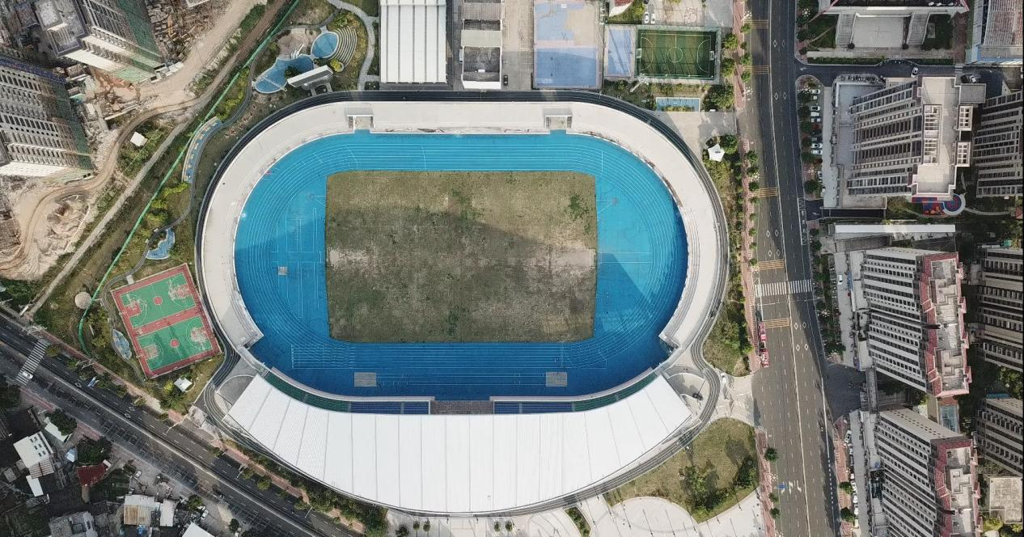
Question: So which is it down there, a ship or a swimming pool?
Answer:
swimming pool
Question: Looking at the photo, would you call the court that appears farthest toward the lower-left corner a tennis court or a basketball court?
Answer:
basketball court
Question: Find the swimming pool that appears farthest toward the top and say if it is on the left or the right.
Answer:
left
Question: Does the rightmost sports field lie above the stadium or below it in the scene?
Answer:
above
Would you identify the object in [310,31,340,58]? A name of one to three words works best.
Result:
swimming pool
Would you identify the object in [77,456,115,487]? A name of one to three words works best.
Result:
house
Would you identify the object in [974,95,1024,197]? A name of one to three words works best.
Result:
building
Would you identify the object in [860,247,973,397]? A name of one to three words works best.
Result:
building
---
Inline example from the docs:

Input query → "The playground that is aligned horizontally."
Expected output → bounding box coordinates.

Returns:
[912,193,967,216]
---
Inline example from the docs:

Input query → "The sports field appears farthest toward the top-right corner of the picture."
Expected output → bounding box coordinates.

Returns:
[633,25,720,84]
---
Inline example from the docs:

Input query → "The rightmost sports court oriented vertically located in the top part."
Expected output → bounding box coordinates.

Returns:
[604,23,633,89]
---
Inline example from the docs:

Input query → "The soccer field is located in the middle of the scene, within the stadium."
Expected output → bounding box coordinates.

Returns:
[325,170,596,343]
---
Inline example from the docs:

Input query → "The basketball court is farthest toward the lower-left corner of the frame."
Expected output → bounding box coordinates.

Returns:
[112,264,221,379]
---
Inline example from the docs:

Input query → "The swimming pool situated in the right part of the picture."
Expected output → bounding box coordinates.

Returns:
[656,96,702,112]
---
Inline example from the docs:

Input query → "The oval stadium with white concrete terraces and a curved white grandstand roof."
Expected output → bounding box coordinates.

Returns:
[203,102,716,516]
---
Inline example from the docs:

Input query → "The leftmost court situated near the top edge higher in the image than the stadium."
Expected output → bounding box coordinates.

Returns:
[533,0,602,89]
